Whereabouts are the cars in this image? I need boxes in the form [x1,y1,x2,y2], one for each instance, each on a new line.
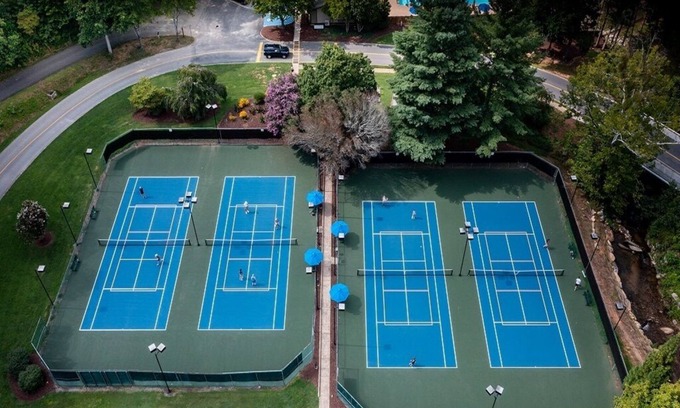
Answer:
[262,45,289,58]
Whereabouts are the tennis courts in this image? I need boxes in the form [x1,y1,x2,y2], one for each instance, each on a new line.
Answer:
[462,201,581,368]
[362,201,458,368]
[80,177,199,330]
[199,177,295,330]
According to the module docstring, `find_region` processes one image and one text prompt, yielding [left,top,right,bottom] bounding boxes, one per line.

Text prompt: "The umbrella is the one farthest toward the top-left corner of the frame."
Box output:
[306,191,324,211]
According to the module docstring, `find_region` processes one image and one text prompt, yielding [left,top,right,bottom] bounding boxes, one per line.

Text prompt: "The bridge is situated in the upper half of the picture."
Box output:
[605,125,680,191]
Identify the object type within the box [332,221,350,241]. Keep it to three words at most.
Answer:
umbrella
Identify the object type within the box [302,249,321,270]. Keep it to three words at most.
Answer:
umbrella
